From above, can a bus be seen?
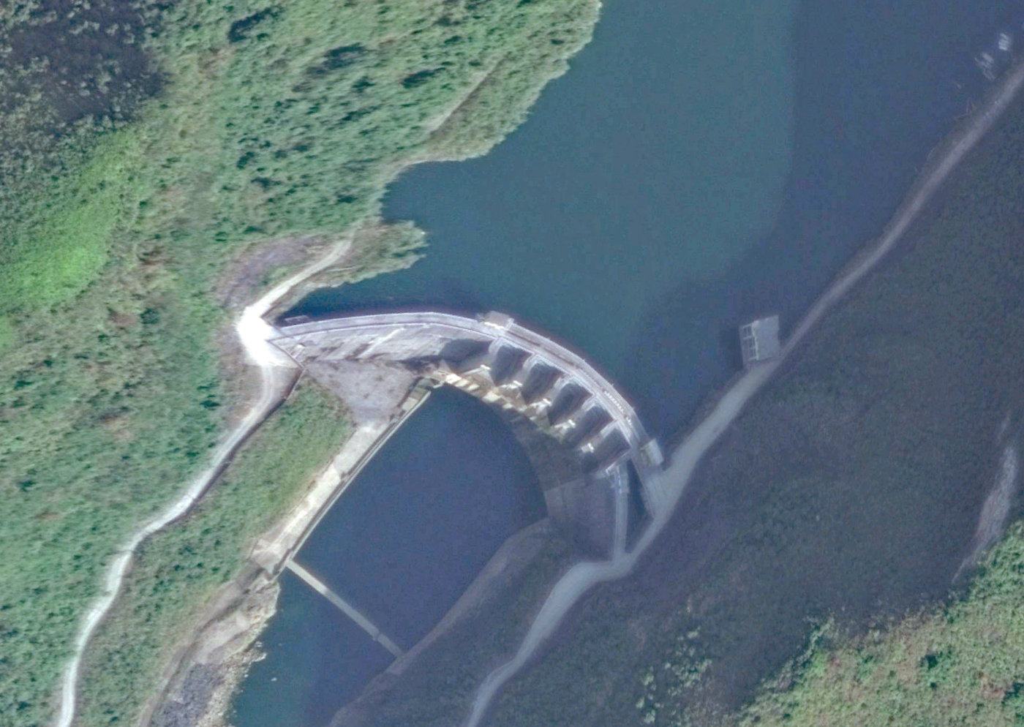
No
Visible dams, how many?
two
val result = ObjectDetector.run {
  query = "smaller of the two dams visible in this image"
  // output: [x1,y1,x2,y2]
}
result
[283,557,404,656]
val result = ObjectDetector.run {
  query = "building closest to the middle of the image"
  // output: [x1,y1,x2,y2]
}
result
[483,311,510,330]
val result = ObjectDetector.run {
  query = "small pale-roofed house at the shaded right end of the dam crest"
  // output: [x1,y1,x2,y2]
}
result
[645,439,667,465]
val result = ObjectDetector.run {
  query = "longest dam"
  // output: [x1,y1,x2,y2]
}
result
[274,312,665,556]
